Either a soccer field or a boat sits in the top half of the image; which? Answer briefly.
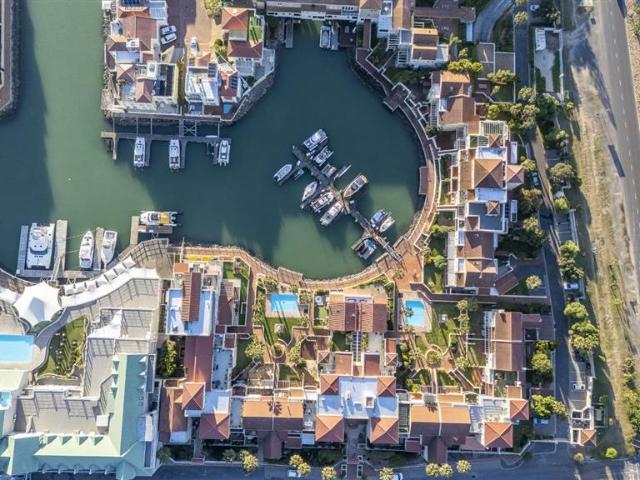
boat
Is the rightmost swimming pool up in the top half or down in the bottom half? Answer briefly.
bottom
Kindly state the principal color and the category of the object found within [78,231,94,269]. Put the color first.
white boat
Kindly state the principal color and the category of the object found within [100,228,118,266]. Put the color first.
white boat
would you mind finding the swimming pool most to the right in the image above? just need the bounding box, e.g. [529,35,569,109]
[404,299,426,328]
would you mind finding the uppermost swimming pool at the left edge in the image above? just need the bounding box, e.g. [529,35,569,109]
[0,334,35,364]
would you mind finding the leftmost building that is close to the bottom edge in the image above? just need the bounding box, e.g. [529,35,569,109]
[0,351,161,479]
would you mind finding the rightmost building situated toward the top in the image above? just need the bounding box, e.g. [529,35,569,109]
[532,29,559,52]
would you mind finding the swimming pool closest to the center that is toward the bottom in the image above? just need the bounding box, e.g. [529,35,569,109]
[270,292,299,313]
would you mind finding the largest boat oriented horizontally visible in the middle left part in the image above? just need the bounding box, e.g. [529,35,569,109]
[139,208,179,226]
